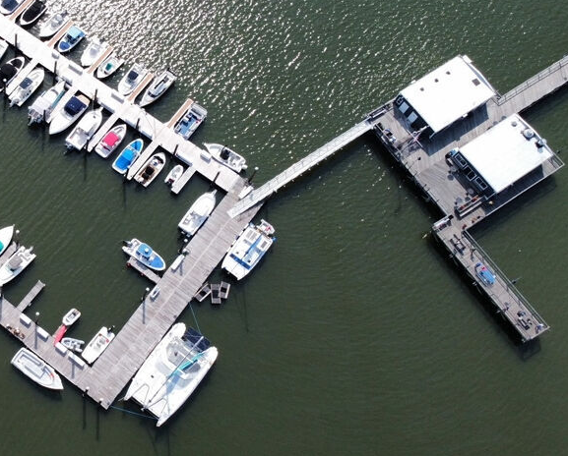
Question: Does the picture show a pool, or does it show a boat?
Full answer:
It is a boat that can be seen here.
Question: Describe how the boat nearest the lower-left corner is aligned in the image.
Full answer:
From this overhead view, the boat nearest the lower-left corner appears to run at an angle.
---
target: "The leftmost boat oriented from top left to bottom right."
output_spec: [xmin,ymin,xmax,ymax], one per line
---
[12,349,63,389]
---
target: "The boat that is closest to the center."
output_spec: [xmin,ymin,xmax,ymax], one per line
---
[259,218,275,233]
